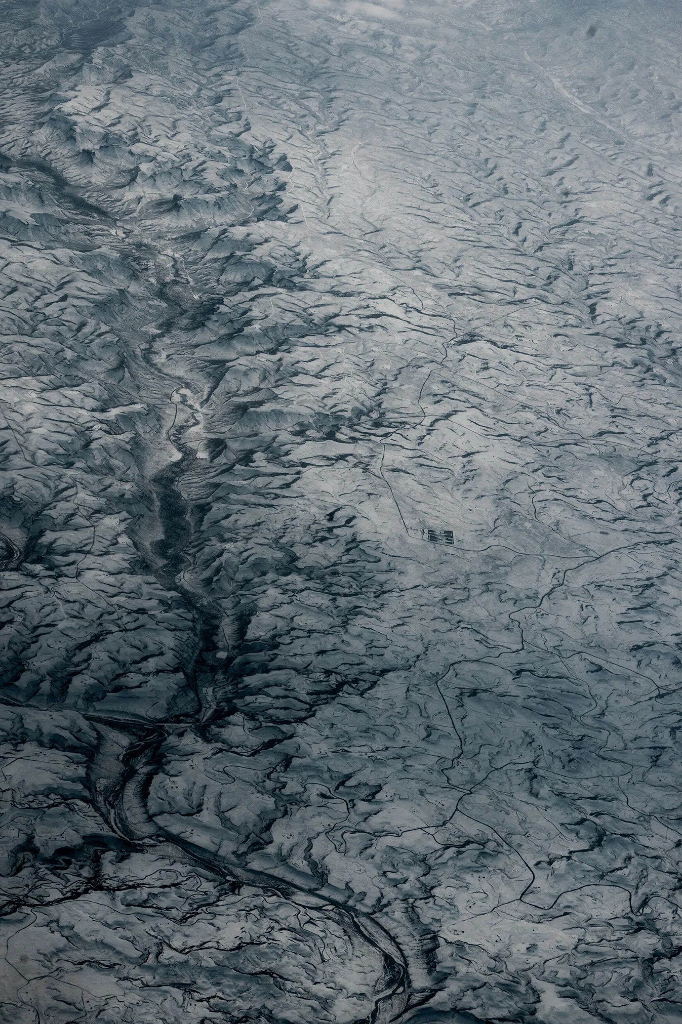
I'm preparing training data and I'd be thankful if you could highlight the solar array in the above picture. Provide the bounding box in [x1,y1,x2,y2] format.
[428,529,454,546]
